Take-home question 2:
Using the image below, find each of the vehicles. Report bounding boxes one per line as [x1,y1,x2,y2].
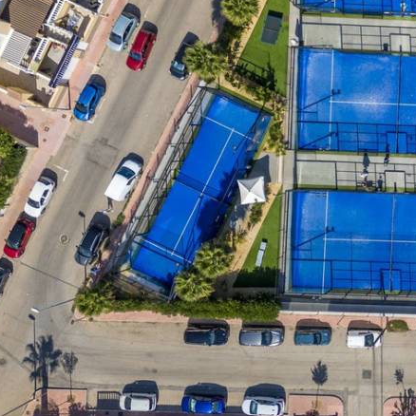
[241,395,286,416]
[74,214,112,264]
[238,326,286,350]
[346,328,383,349]
[24,170,60,217]
[181,392,228,416]
[293,326,333,349]
[3,215,38,258]
[118,390,161,413]
[170,35,201,77]
[108,7,142,53]
[126,26,161,71]
[182,325,231,349]
[104,153,144,204]
[73,77,107,120]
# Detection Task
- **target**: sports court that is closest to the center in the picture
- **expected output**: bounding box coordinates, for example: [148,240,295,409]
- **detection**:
[109,84,278,302]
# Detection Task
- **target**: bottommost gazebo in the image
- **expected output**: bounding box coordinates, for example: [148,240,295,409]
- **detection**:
[237,176,273,204]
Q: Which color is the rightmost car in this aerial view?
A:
white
